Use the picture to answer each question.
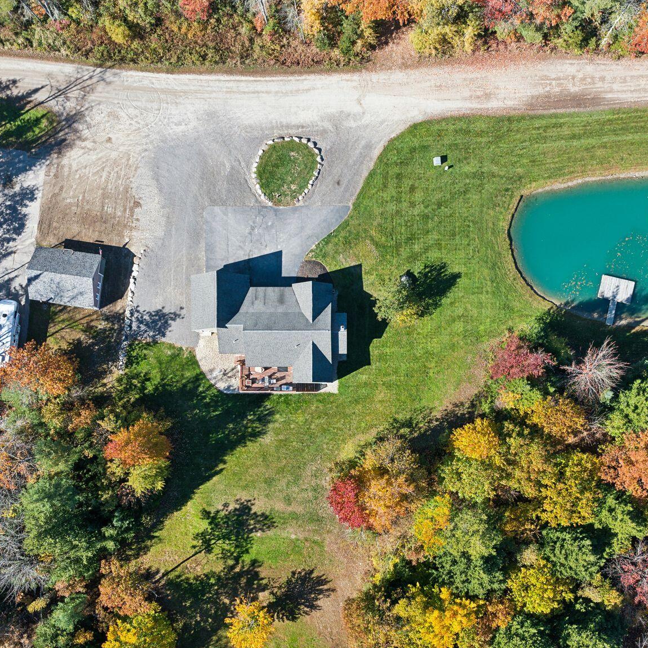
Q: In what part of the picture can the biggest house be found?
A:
center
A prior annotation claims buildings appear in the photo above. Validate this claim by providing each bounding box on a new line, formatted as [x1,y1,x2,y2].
[189,272,347,382]
[26,246,106,308]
